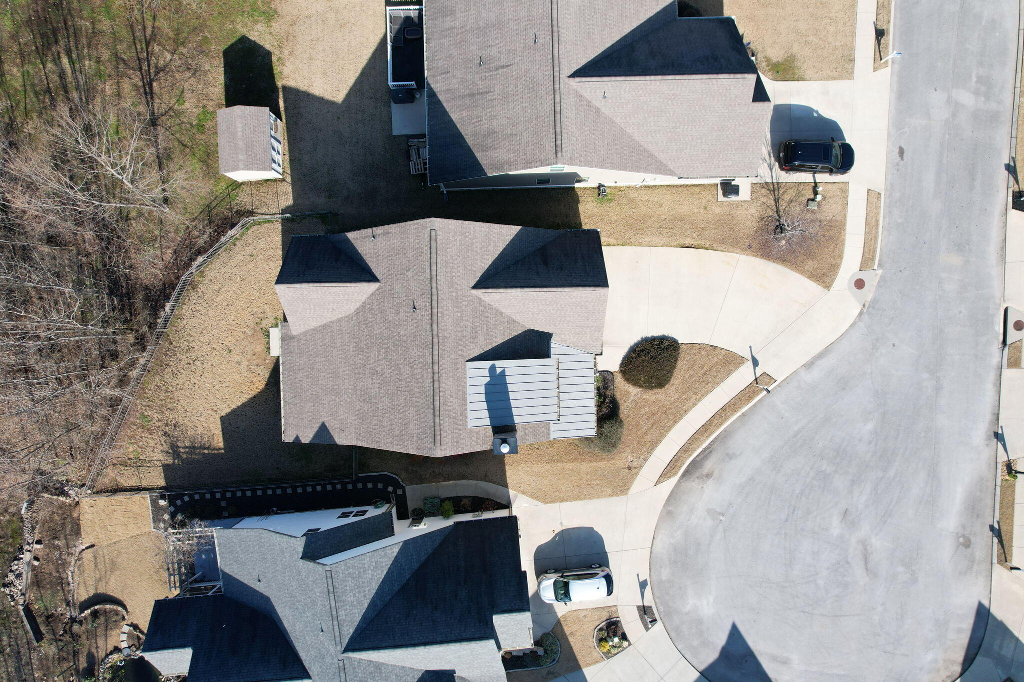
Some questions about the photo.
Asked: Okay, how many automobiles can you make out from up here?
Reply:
2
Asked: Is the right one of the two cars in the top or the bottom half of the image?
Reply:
top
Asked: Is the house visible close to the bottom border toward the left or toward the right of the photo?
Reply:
left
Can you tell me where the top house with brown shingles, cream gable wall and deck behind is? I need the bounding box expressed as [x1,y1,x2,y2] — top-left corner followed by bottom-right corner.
[423,0,771,197]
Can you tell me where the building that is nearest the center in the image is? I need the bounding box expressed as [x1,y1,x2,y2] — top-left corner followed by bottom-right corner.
[277,218,609,457]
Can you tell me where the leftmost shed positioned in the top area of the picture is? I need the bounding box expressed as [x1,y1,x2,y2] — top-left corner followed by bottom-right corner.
[218,105,280,181]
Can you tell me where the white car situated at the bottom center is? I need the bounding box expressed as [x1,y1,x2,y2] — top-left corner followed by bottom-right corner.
[538,564,615,608]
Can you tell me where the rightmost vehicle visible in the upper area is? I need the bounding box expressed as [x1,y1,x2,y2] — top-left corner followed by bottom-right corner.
[777,138,856,177]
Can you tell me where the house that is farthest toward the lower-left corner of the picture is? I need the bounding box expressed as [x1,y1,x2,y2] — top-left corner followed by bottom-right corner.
[140,504,537,682]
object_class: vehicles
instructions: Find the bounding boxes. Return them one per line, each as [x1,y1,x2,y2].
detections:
[777,138,856,177]
[538,564,615,608]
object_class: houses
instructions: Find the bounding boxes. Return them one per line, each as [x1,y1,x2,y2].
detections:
[140,504,537,682]
[277,218,609,457]
[423,0,771,197]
